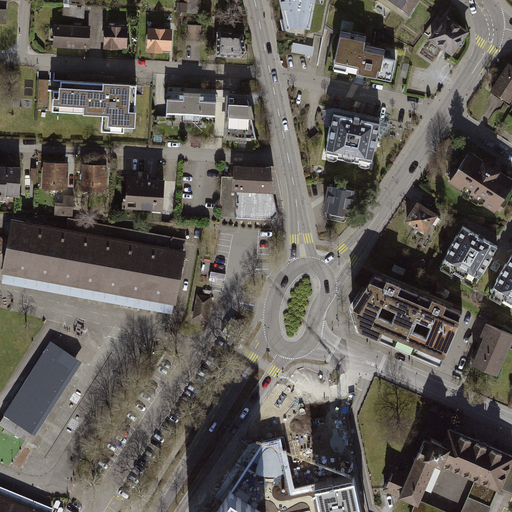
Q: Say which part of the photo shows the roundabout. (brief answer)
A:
center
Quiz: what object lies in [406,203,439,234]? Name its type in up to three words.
house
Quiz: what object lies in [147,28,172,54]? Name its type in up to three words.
house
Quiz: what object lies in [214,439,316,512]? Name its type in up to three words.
building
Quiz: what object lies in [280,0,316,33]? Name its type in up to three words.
building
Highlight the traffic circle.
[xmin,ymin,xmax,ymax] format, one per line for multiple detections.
[258,252,342,365]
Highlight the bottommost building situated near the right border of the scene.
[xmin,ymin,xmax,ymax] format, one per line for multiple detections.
[402,430,512,512]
